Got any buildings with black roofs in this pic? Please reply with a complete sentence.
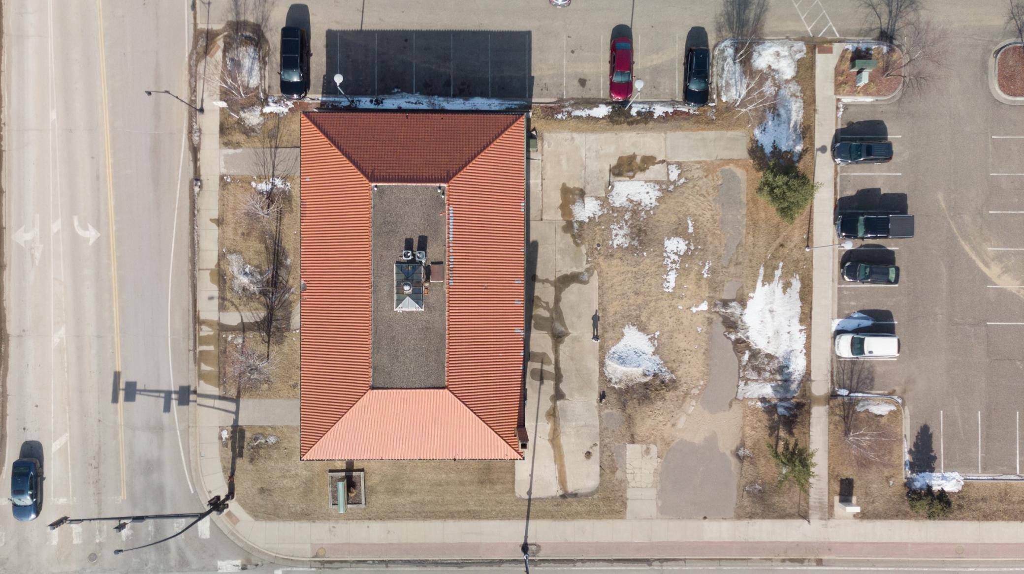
No, the photo shows no building with a black roof.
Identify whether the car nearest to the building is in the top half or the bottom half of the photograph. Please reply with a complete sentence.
The car nearest to the building sits in the top half of the picture.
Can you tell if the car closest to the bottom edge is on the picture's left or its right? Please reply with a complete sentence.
It is on the left.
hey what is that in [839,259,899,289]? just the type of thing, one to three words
car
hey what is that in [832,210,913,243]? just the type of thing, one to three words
truck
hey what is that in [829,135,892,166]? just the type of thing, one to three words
car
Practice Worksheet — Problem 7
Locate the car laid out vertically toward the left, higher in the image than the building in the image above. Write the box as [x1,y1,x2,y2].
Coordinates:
[275,30,309,102]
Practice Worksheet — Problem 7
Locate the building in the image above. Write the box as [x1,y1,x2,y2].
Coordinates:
[298,110,528,463]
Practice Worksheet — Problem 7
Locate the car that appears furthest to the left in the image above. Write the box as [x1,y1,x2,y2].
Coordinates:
[7,456,42,521]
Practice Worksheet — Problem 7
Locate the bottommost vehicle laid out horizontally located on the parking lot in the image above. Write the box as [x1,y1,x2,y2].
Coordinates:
[832,331,899,362]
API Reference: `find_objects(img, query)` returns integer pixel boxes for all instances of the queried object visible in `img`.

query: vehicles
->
[682,45,713,107]
[829,135,892,166]
[606,37,636,103]
[832,210,913,243]
[839,259,899,289]
[275,30,309,102]
[832,331,899,362]
[7,456,42,521]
